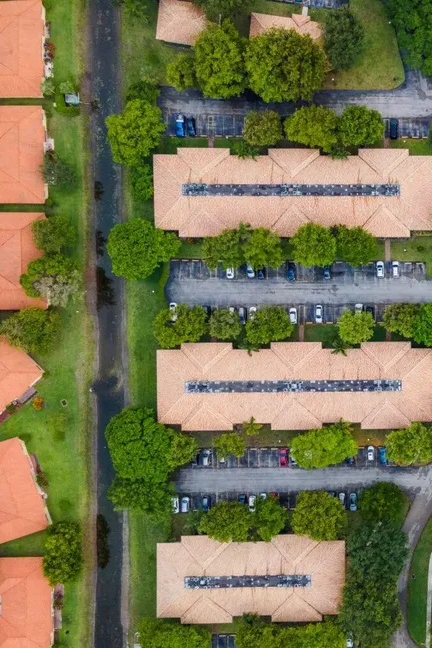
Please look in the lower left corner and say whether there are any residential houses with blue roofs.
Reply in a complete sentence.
No, the scene shows no residential house with a blue roof in the lower left corner.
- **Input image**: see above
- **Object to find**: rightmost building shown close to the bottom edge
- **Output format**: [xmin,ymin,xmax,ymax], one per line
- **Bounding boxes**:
[156,534,347,624]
